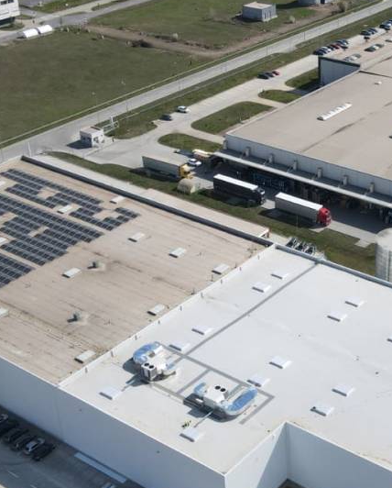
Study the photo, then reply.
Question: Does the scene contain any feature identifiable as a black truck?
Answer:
Yes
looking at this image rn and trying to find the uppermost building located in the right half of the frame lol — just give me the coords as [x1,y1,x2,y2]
[243,2,275,20]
